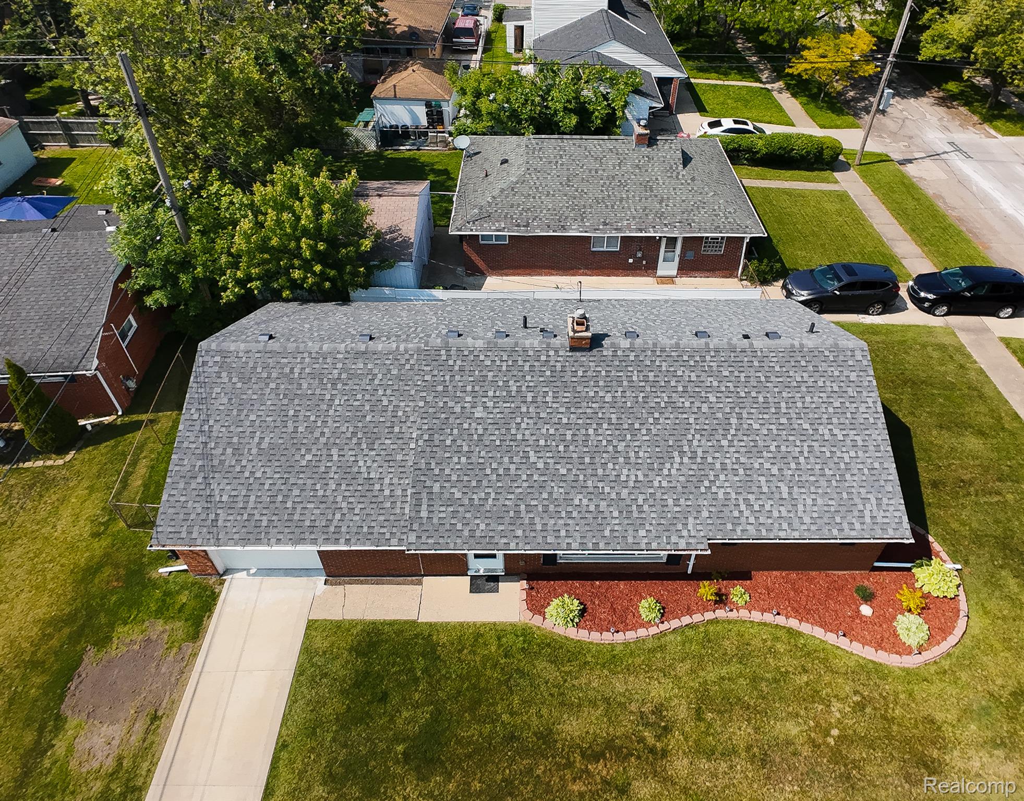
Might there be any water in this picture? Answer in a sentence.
No, no water is visible.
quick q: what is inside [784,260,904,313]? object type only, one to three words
car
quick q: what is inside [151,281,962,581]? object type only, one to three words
house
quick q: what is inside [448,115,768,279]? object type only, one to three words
house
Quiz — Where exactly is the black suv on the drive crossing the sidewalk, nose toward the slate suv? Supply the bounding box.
[907,263,1024,316]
